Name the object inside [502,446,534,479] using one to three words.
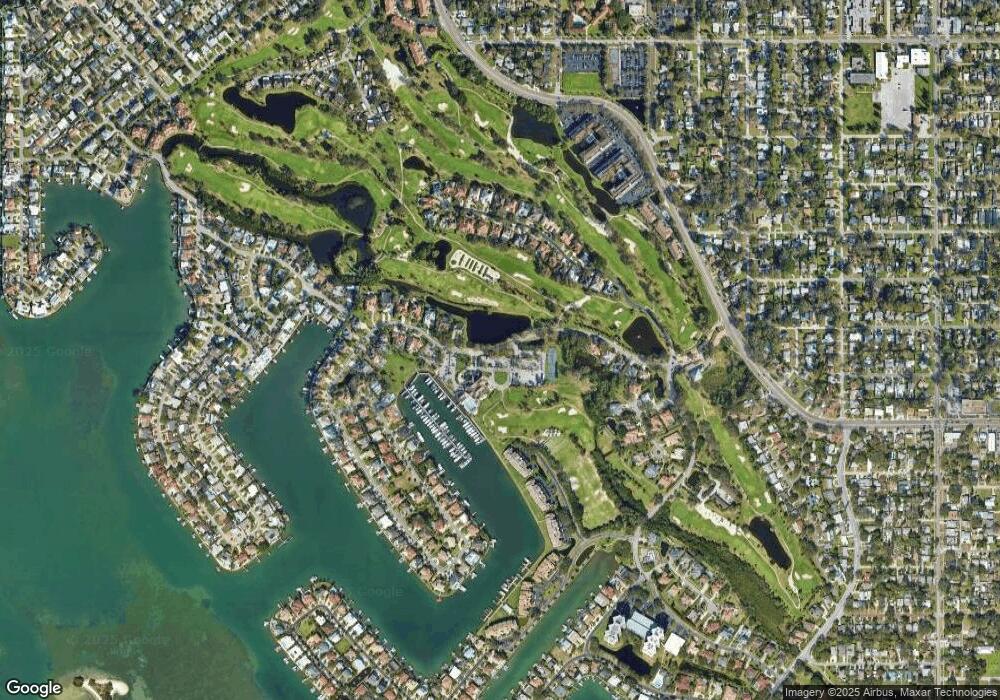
building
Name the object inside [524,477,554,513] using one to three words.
building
